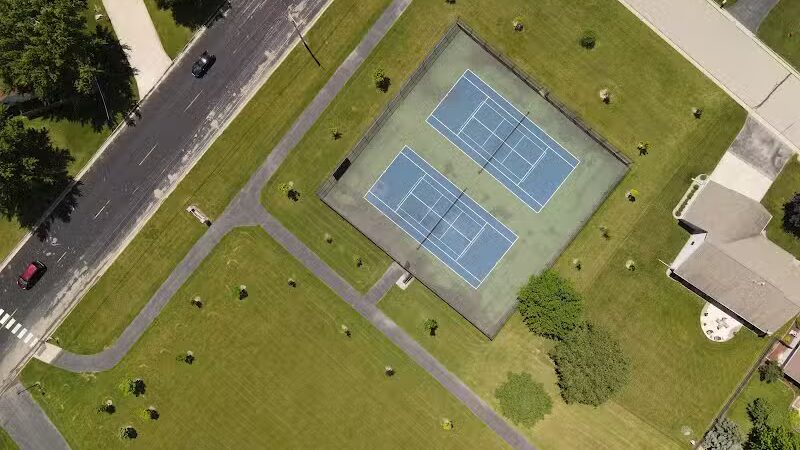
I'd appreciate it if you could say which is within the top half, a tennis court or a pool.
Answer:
tennis court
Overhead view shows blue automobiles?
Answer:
No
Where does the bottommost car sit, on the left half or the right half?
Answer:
left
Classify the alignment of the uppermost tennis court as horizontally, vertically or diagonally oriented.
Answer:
diagonally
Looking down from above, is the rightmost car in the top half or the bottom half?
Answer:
top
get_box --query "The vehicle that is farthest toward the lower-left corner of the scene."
[19,259,45,287]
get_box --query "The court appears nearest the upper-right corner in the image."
[426,69,580,213]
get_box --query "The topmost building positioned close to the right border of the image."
[666,178,800,334]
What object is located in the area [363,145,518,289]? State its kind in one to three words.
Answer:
tennis court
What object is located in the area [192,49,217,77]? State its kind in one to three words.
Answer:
car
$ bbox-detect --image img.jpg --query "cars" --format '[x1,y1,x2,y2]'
[19,259,45,287]
[192,49,217,77]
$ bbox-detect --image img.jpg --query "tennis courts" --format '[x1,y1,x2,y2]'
[426,69,580,213]
[363,145,518,289]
